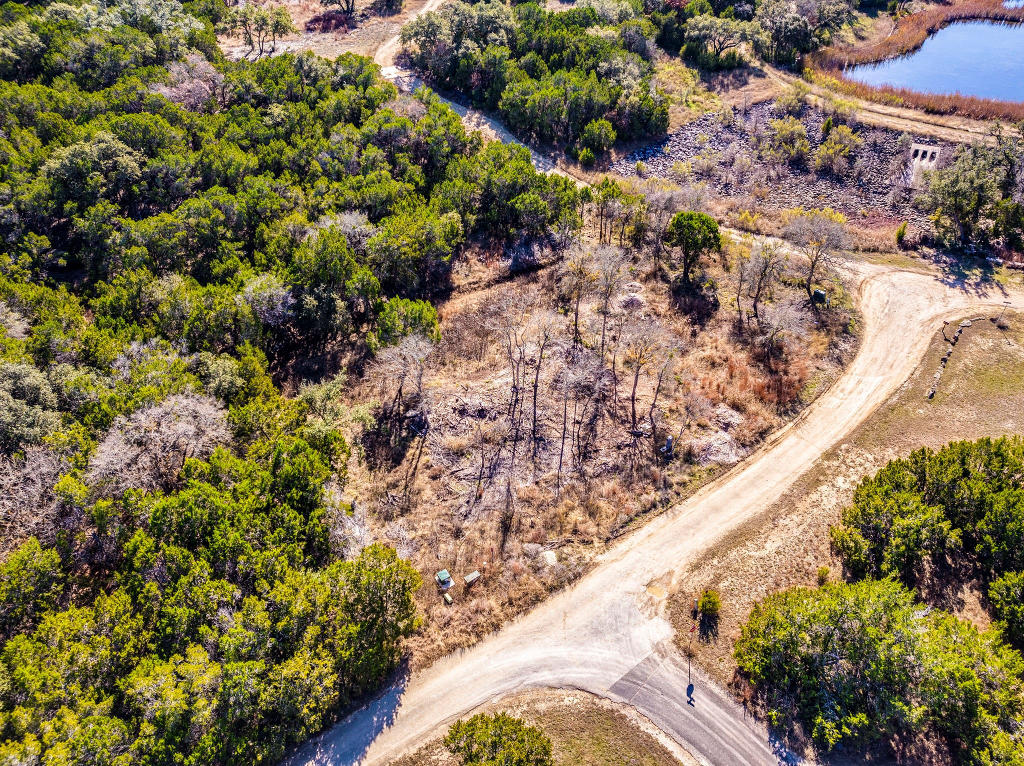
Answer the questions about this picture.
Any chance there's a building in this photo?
No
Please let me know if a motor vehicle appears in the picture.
No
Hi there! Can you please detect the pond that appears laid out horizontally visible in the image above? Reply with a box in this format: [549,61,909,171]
[845,20,1024,104]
